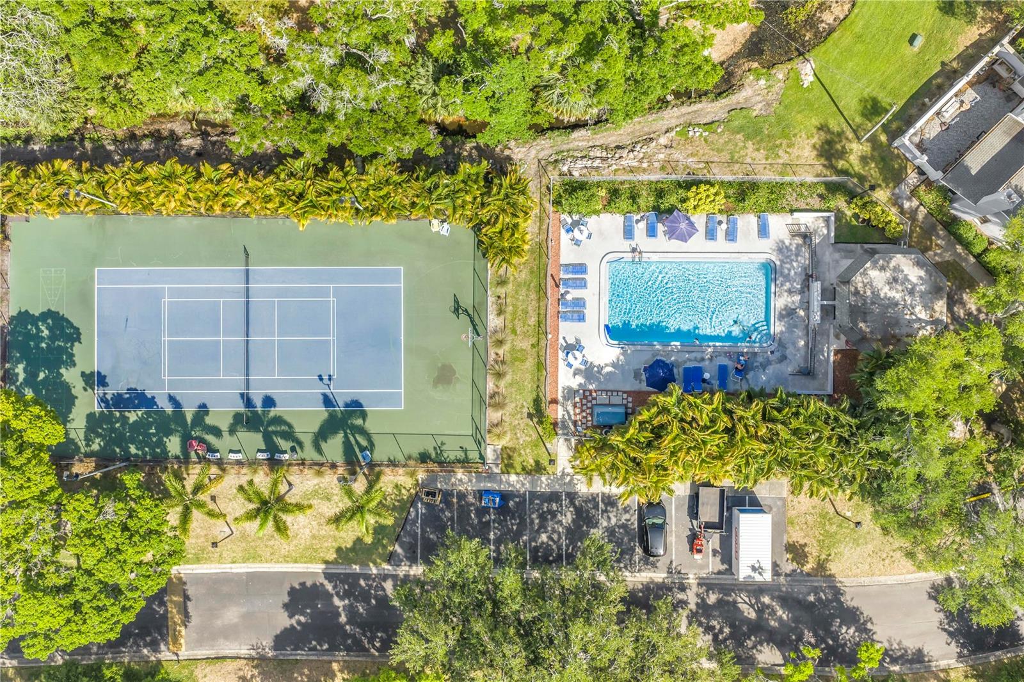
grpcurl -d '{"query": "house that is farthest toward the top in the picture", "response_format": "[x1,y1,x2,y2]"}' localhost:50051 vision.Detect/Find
[925,101,1024,258]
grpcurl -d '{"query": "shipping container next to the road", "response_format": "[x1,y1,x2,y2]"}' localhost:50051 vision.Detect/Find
[731,508,772,581]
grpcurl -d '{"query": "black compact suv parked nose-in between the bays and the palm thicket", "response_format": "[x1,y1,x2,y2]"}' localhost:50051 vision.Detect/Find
[640,501,669,559]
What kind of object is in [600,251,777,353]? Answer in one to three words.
swimming pool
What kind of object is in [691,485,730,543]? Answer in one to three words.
trailer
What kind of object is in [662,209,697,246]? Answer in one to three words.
umbrella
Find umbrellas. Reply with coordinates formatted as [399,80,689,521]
[640,357,677,392]
[662,209,697,246]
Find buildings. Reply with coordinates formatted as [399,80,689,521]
[925,101,1024,258]
[833,245,950,361]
